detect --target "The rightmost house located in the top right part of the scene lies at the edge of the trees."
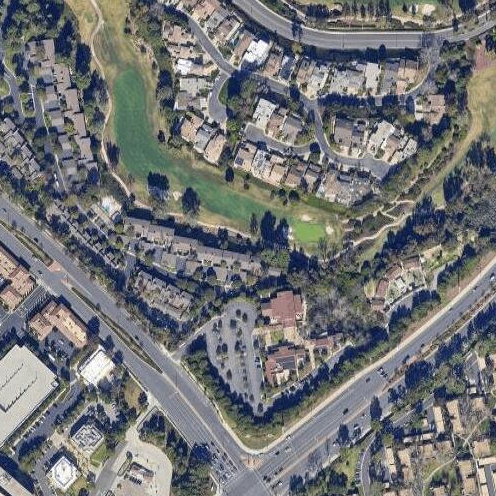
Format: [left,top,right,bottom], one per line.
[417,97,444,120]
